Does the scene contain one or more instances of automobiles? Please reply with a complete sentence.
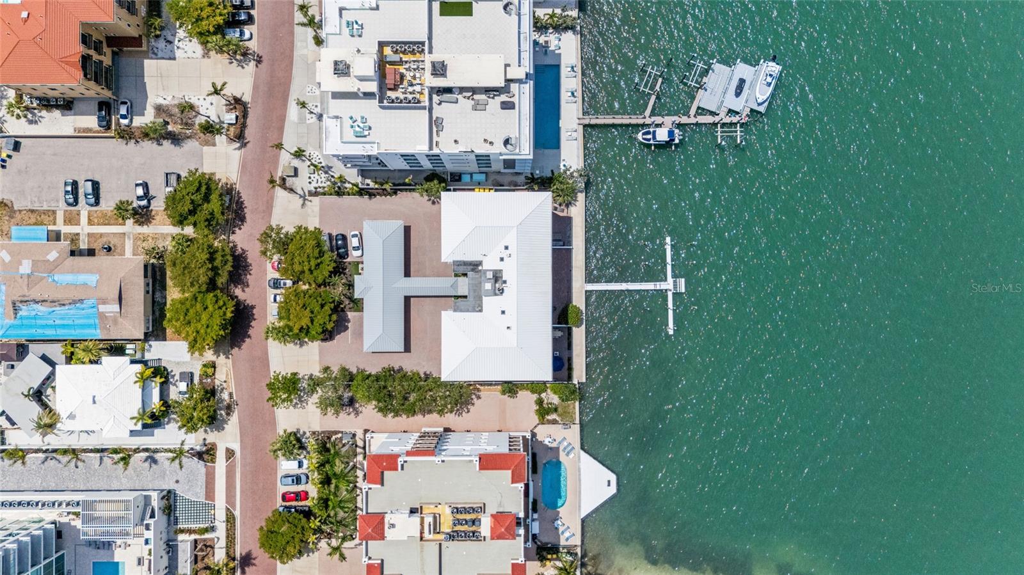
Yes, an automobile is visible in the scene.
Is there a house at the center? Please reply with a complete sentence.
Yes, a house is visible at the center.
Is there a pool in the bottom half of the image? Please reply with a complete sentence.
Yes, the scene does show a pool in the bottom half of the image.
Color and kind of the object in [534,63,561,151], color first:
blue swimming pool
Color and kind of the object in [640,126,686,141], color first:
white boat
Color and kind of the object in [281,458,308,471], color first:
white vehicle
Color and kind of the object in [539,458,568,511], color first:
blue swimming pool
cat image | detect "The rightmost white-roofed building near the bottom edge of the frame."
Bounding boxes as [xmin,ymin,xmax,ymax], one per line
[358,426,531,575]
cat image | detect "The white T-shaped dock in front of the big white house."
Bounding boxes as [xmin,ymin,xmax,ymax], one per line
[585,237,685,334]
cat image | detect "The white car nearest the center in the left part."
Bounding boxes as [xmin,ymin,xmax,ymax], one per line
[350,230,363,258]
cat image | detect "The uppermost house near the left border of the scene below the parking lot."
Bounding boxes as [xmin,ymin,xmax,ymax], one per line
[0,241,150,339]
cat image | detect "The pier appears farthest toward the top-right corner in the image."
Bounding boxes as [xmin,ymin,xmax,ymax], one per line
[582,76,750,127]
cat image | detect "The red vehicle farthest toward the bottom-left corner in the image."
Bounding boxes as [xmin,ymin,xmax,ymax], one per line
[282,490,310,503]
